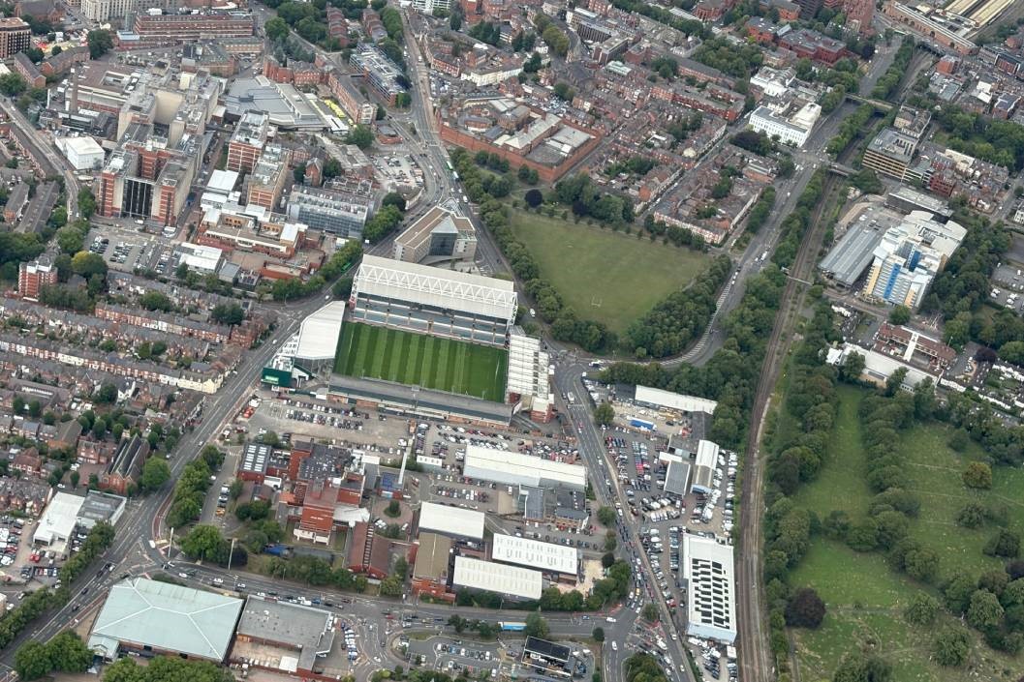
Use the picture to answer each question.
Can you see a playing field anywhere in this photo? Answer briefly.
Yes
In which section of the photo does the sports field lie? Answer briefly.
center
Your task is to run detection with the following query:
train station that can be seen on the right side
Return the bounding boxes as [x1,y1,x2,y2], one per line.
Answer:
[880,0,977,54]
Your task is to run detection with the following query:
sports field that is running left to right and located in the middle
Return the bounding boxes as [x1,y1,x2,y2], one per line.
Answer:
[332,321,509,404]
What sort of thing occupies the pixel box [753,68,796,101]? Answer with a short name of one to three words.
house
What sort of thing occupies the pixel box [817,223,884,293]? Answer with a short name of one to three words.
shed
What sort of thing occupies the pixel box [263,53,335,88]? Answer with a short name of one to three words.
building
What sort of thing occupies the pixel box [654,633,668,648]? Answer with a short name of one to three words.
vehicle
